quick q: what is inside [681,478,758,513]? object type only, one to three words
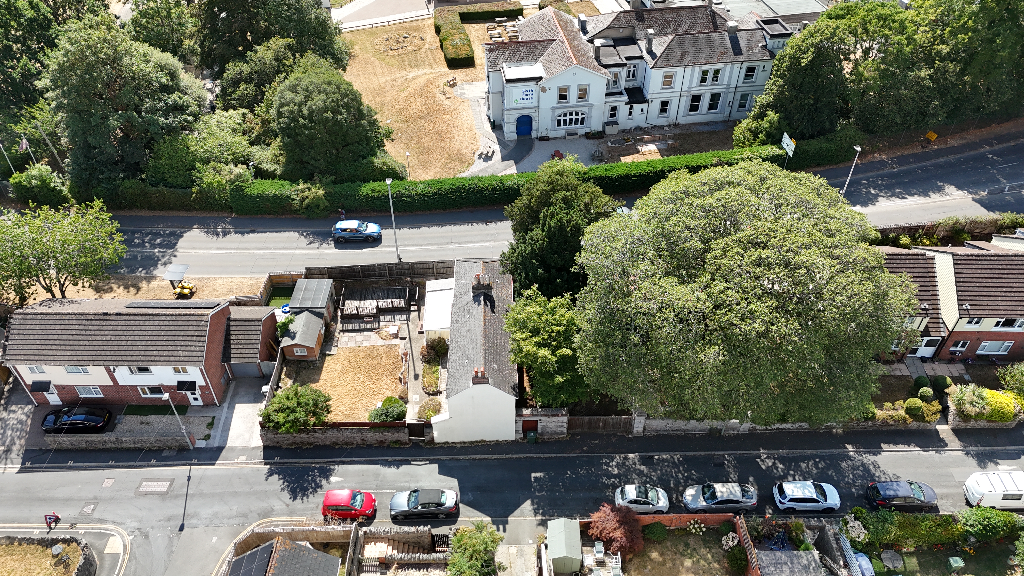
car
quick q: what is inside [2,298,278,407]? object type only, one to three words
house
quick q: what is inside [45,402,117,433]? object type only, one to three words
car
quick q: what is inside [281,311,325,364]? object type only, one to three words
shed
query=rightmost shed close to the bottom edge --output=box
[547,518,582,571]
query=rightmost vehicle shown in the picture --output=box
[965,468,1024,510]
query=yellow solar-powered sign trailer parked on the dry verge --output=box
[162,264,208,298]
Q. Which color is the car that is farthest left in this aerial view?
black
